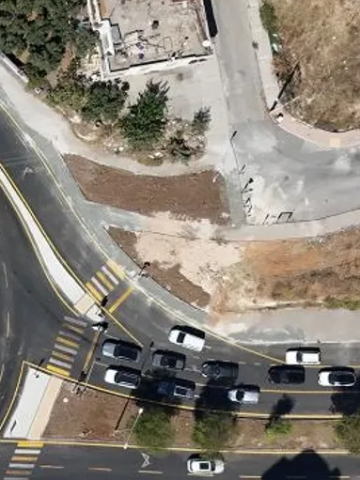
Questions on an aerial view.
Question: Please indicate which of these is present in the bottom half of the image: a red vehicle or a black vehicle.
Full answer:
You can see a black vehicle in the bottom half of the image.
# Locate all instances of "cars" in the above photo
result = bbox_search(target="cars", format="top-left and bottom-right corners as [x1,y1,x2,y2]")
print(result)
[103,367,143,390]
[283,347,321,366]
[157,379,197,399]
[102,342,141,361]
[185,457,224,475]
[317,369,355,387]
[266,366,305,385]
[225,385,263,403]
[168,329,206,351]
[149,351,188,370]
[201,361,239,380]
